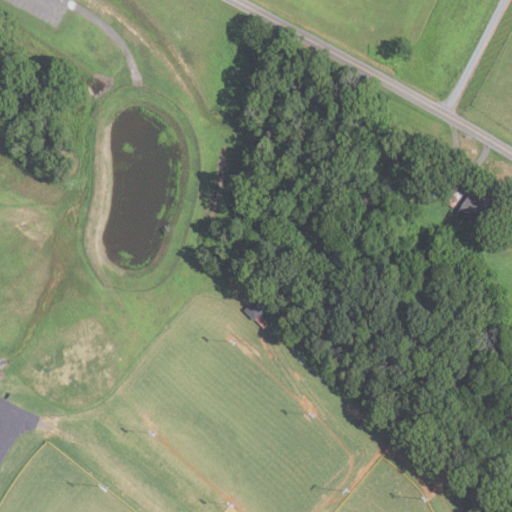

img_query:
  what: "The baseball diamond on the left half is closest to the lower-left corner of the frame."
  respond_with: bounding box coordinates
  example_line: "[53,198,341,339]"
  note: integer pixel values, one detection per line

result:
[0,444,131,512]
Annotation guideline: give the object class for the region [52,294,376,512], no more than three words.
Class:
sports field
